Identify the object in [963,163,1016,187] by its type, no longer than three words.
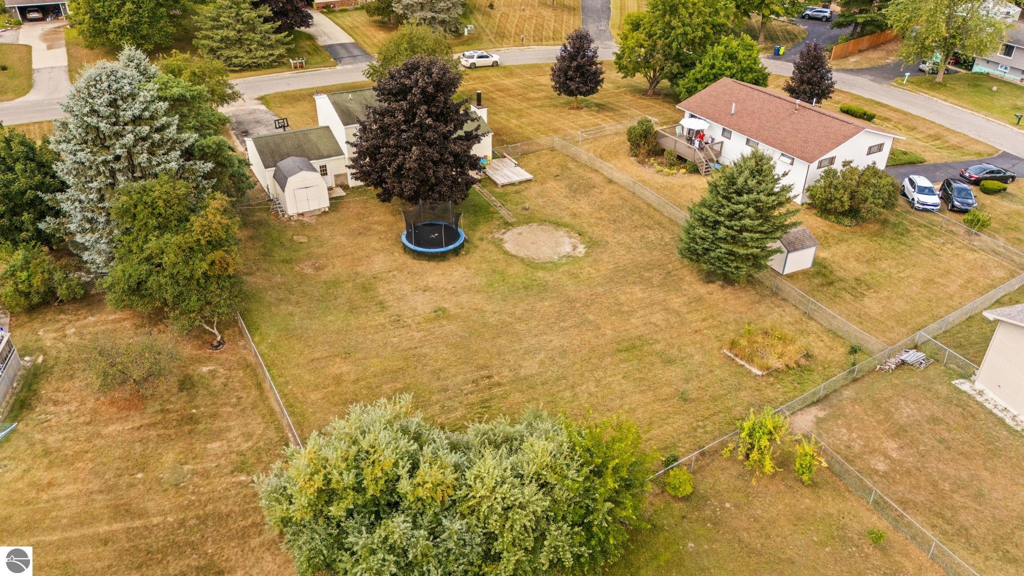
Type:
car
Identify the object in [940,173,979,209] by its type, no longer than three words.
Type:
car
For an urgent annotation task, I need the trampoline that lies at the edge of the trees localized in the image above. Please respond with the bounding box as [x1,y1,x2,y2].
[397,198,465,256]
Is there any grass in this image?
Yes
